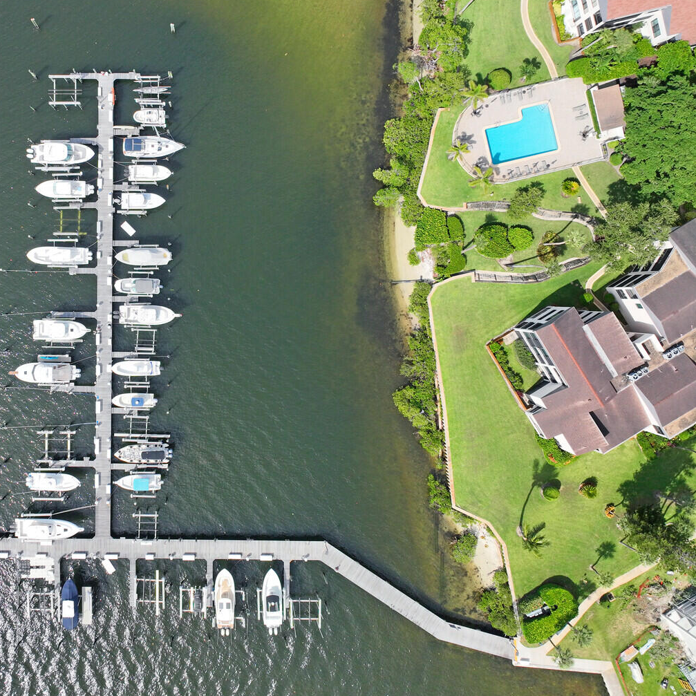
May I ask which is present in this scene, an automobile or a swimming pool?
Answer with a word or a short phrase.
swimming pool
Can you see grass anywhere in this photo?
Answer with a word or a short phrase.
Yes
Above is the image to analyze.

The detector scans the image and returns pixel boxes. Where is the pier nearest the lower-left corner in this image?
[19,557,54,581]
